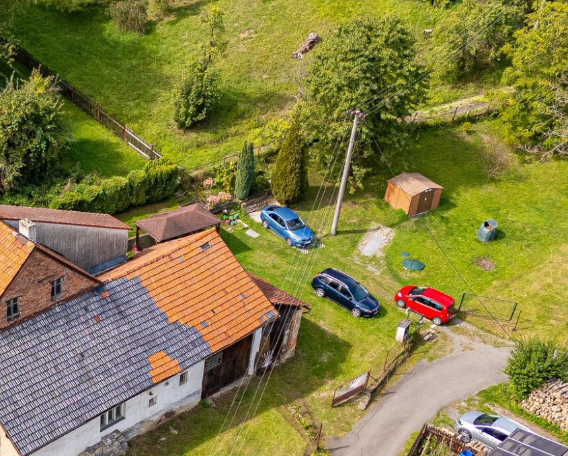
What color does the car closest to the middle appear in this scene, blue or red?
blue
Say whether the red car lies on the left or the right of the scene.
right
